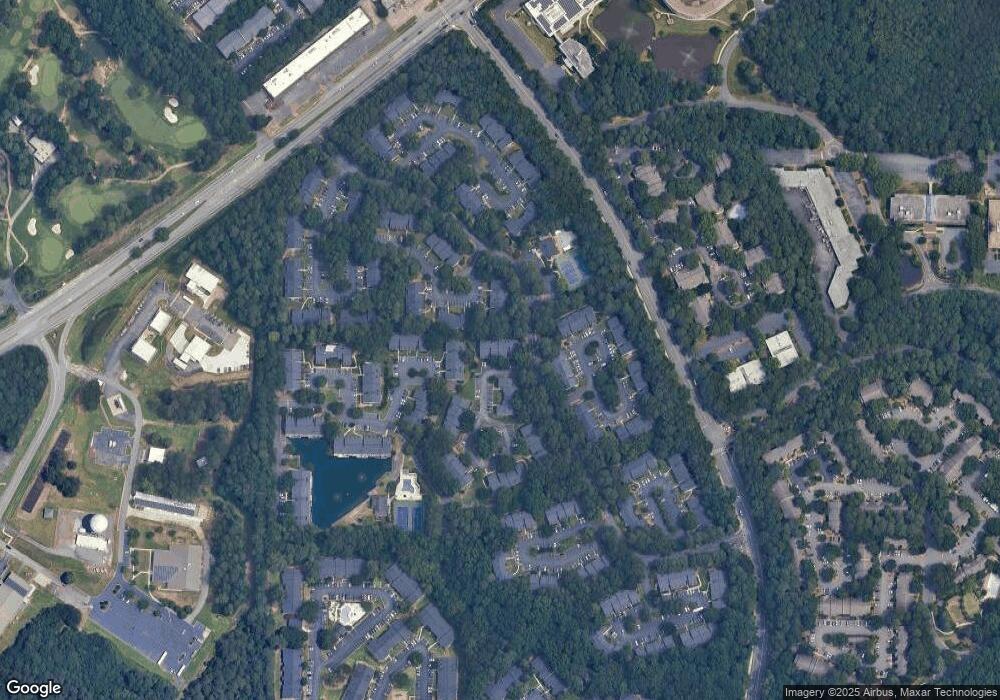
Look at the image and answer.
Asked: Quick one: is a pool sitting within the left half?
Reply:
Yes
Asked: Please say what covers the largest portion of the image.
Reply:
trees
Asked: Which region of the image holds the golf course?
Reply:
top left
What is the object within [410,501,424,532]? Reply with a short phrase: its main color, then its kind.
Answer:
blue tennis court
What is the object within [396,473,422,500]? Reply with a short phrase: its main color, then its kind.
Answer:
white swimming pool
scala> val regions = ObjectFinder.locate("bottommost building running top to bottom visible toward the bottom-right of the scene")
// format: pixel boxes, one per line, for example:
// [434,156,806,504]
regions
[895,626,908,678]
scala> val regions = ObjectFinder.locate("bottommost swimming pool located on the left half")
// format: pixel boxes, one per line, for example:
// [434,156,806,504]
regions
[328,599,368,628]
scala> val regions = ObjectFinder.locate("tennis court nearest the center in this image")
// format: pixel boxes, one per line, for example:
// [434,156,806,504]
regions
[556,252,587,288]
